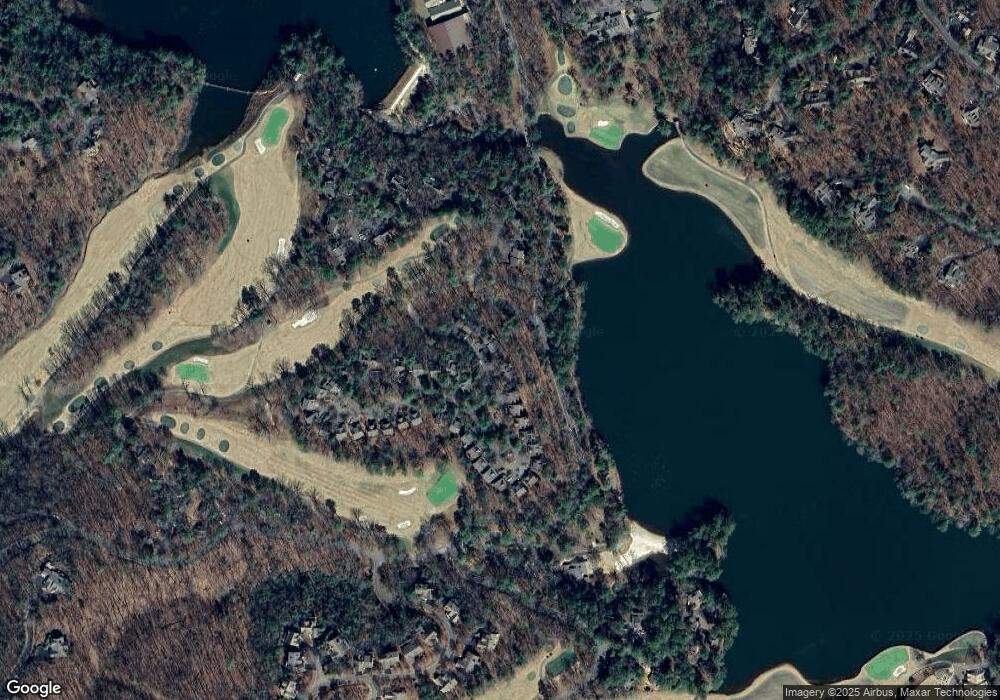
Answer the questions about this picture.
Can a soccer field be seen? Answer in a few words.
No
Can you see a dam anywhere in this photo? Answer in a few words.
Yes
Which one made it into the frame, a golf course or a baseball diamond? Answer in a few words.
golf course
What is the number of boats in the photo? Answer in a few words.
0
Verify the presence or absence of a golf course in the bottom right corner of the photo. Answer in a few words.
Yes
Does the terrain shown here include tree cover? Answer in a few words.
Yes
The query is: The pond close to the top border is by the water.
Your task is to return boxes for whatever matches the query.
[89,0,411,160]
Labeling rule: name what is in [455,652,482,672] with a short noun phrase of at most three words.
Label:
house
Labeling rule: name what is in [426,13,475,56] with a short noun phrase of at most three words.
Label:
building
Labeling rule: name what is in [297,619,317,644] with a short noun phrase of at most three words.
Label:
house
